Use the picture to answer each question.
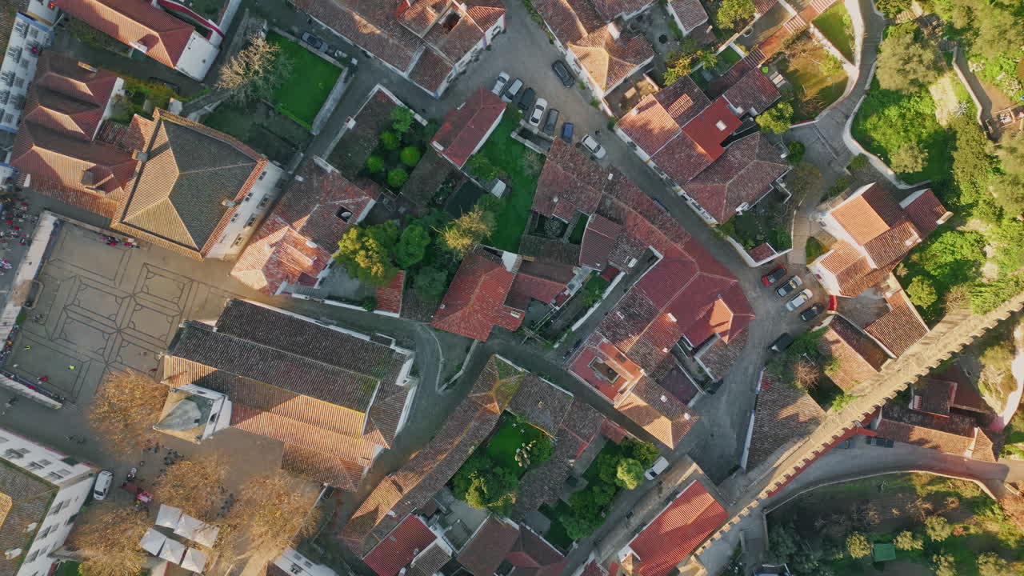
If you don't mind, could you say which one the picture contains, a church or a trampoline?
church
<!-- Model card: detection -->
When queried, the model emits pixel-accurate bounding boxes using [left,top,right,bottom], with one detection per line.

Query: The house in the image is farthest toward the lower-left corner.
[0,419,92,576]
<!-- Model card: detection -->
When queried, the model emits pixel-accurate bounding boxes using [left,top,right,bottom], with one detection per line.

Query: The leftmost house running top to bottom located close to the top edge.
[0,10,51,132]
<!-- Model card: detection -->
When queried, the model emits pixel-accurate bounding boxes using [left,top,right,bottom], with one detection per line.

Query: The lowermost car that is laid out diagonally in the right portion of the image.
[643,454,671,481]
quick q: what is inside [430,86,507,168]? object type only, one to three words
house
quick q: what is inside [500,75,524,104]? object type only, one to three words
car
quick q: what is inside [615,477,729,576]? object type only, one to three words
building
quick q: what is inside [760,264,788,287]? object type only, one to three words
car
